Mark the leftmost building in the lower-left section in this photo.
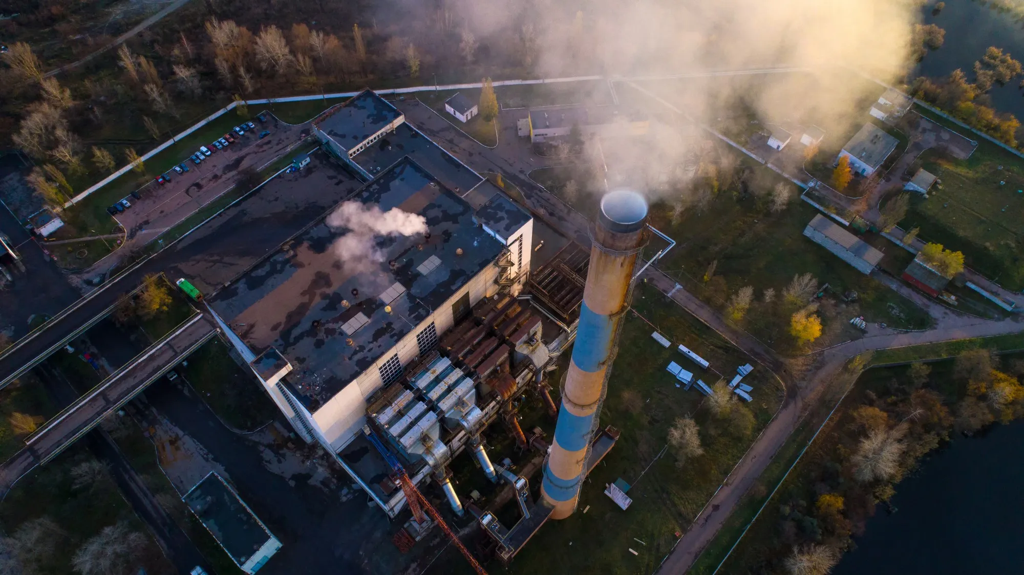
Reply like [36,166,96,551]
[183,469,281,570]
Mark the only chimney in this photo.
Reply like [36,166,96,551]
[547,187,651,514]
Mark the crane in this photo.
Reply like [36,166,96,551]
[350,413,489,575]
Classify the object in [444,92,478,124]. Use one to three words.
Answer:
house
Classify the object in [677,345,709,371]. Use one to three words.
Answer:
shipping container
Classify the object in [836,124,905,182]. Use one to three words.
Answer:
building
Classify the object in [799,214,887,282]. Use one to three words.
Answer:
barn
